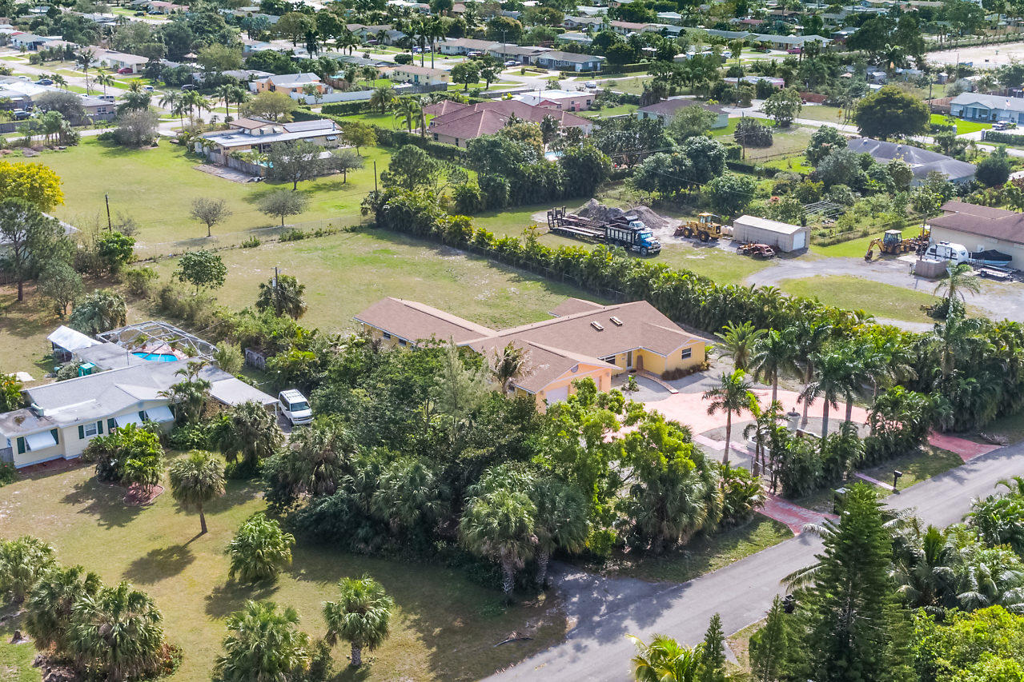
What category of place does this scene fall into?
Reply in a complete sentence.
This image shows a residential area.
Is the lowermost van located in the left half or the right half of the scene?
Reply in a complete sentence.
You can find the lowermost van on the left side of the picture.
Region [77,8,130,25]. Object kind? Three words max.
house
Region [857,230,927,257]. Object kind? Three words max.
work vehicle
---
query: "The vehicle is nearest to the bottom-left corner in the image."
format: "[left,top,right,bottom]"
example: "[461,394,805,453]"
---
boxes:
[280,384,314,421]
